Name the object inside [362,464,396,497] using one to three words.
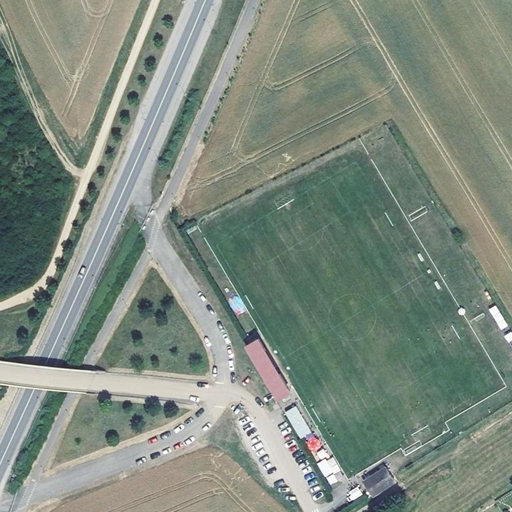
building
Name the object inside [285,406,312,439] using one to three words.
shed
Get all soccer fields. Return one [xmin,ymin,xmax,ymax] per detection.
[212,154,502,474]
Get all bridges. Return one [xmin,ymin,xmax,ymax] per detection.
[0,360,116,394]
